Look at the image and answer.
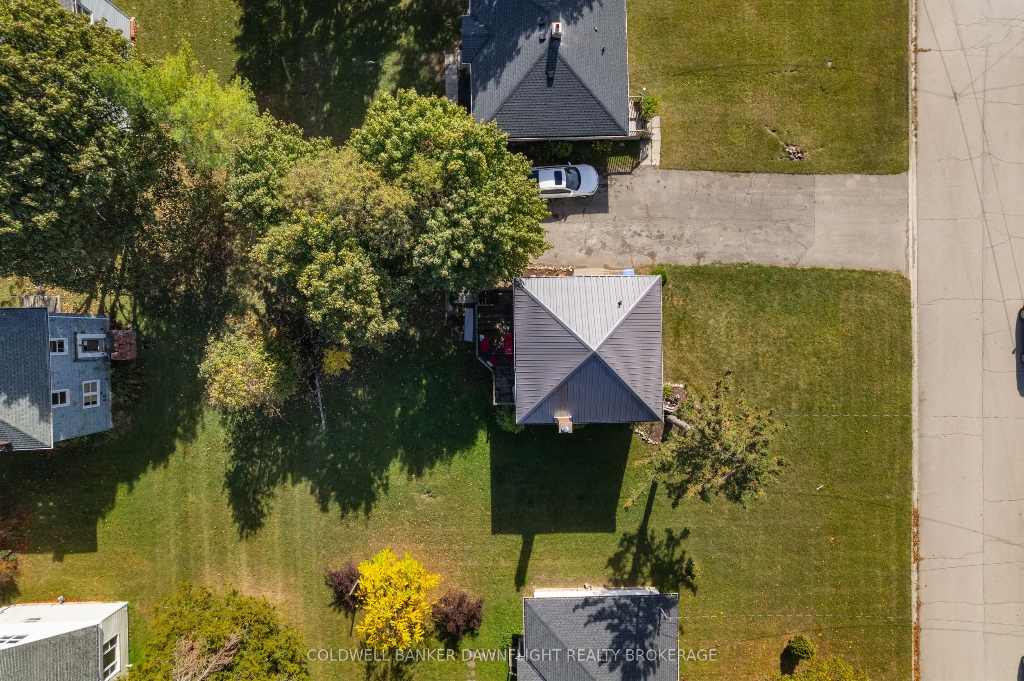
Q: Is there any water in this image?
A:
No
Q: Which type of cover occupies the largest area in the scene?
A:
grass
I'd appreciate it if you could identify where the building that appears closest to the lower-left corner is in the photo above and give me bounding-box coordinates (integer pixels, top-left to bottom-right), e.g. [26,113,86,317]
[0,602,130,681]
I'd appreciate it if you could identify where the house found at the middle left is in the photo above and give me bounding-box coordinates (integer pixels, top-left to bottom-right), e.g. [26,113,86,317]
[0,304,114,451]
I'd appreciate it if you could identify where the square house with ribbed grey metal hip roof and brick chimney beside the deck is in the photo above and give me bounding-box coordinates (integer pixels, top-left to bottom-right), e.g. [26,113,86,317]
[514,274,664,434]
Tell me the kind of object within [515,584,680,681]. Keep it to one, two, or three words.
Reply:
house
